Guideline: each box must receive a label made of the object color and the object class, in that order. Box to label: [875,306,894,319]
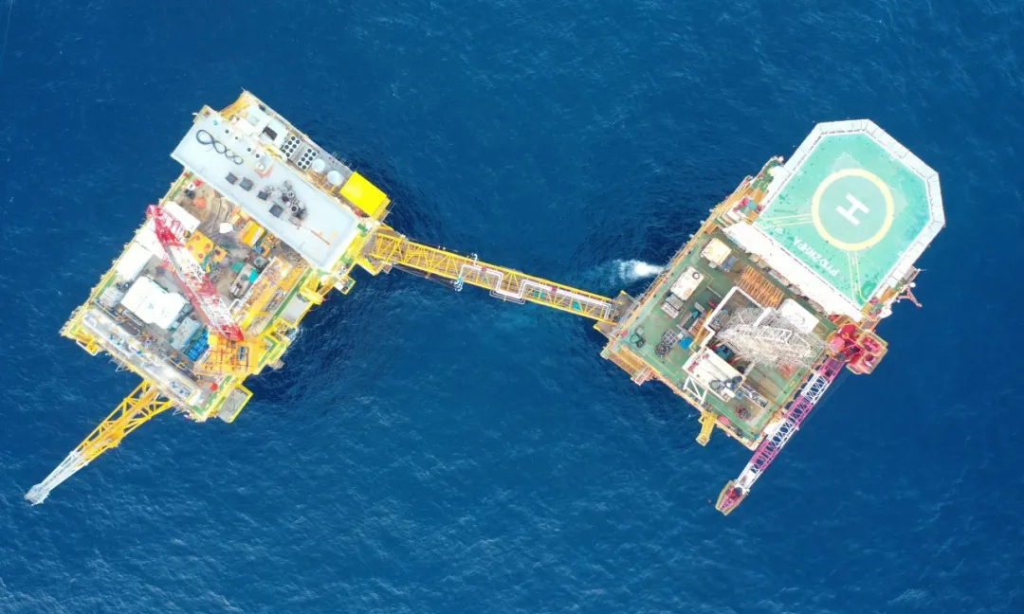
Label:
white boat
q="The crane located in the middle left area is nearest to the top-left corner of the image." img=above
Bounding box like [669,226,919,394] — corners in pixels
[147,206,261,378]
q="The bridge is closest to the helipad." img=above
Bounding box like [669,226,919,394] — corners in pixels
[371,232,619,324]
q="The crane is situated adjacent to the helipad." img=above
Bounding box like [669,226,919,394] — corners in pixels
[714,324,892,517]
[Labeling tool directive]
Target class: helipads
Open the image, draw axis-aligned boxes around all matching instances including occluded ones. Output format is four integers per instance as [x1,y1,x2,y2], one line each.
[749,118,945,315]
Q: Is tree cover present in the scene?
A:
No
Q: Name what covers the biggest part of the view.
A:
water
